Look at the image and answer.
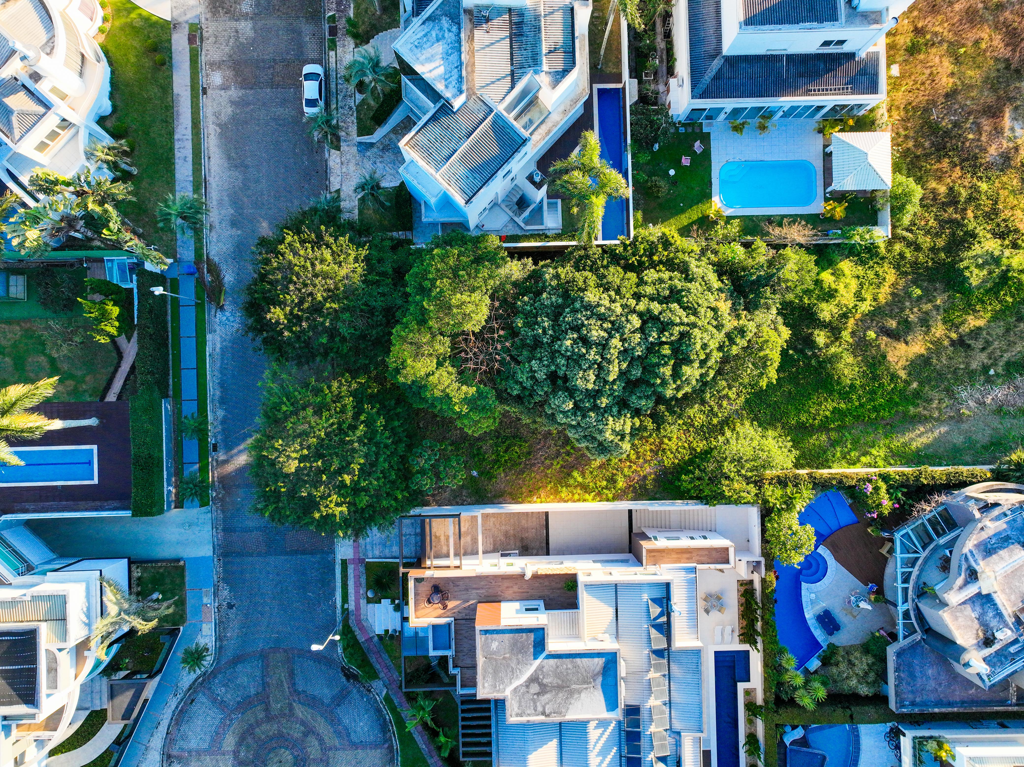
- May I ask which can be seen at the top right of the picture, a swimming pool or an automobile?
swimming pool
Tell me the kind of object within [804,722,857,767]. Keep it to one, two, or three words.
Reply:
swimming pool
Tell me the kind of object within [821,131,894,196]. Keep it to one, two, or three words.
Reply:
building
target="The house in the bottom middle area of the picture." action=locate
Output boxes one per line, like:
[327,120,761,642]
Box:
[404,510,765,767]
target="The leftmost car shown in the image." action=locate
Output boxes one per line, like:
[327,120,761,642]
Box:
[301,65,326,117]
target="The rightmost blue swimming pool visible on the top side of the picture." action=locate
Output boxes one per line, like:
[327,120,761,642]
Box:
[718,158,818,208]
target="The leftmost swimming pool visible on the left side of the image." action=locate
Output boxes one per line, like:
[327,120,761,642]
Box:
[0,445,98,487]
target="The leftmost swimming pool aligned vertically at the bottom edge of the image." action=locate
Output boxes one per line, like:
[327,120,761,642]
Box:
[710,646,751,767]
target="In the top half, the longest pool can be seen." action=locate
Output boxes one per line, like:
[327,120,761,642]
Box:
[597,88,626,241]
